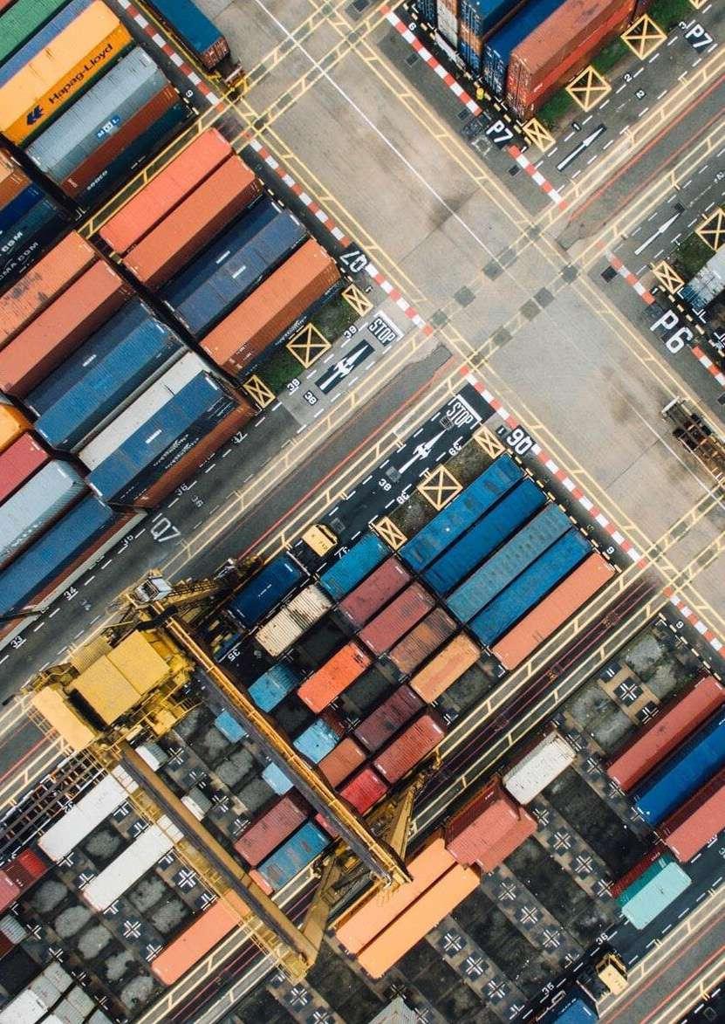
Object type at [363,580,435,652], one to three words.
shipping container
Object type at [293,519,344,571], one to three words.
truck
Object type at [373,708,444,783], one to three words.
shipping container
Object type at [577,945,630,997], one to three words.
truck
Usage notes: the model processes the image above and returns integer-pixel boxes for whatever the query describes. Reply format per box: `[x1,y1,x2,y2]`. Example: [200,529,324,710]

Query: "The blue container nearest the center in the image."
[319,529,391,598]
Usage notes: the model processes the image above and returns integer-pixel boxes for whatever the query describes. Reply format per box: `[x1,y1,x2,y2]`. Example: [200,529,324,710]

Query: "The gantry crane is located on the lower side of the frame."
[11,548,434,992]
